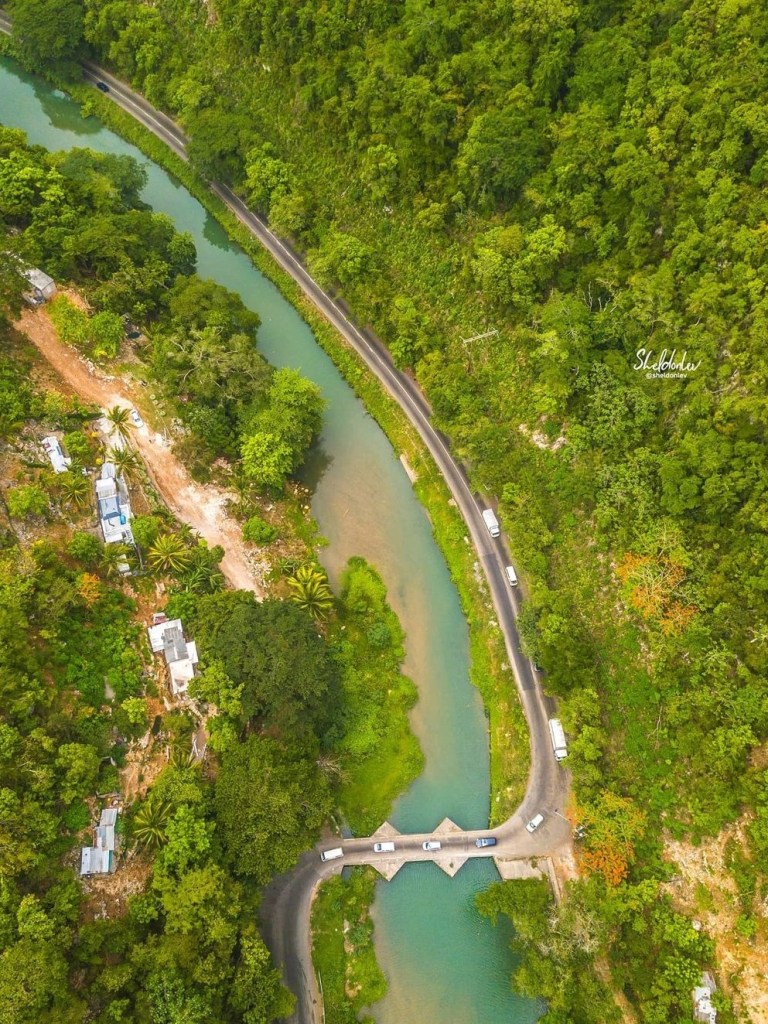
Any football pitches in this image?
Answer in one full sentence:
No, the frame has no football pitch in it.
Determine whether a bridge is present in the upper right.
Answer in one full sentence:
No, no bridge appears in the upper right.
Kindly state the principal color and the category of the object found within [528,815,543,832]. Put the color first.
white car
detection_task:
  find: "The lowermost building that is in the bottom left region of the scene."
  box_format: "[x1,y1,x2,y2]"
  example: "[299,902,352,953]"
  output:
[81,809,121,875]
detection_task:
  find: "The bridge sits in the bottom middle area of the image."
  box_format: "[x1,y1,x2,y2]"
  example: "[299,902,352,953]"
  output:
[339,816,547,882]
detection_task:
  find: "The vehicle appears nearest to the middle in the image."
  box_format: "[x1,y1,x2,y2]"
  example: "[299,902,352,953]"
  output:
[483,508,500,535]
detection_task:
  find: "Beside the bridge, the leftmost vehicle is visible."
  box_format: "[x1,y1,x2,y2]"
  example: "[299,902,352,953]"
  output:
[321,847,342,861]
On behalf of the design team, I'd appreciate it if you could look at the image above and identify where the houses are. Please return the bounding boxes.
[7,254,58,306]
[687,969,717,1024]
[97,463,137,545]
[148,610,200,694]
[81,809,121,875]
[42,437,74,477]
